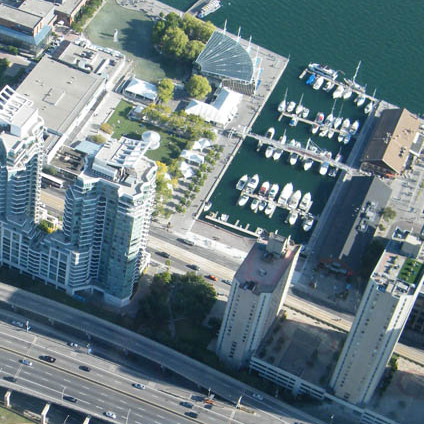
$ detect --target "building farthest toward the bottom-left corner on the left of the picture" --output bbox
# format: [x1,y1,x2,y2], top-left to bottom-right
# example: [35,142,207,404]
[0,210,96,294]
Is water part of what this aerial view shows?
Yes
